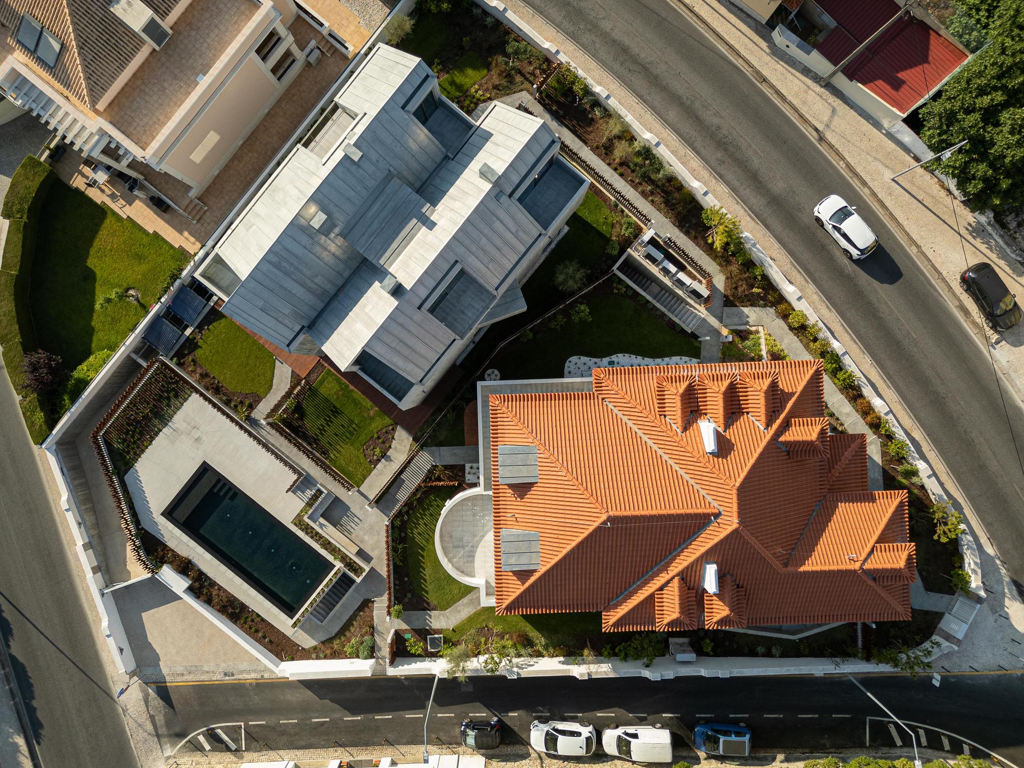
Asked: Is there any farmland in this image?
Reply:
No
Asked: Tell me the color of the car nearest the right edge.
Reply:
black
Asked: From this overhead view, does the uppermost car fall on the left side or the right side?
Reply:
right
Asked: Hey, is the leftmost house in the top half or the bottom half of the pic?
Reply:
top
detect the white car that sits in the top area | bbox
[817,193,882,259]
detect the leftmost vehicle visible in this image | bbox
[458,719,502,755]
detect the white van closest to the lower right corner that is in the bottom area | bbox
[602,724,675,766]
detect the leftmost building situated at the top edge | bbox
[0,0,320,195]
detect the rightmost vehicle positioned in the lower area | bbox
[693,721,755,758]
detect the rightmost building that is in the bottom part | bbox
[433,358,919,640]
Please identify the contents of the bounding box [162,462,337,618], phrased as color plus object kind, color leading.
black swimming pool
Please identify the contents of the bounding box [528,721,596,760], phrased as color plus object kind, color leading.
white car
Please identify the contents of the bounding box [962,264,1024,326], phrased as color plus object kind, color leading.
black car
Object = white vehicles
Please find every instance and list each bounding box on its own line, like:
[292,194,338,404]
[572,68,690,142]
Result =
[602,724,675,766]
[528,721,596,760]
[817,193,882,259]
